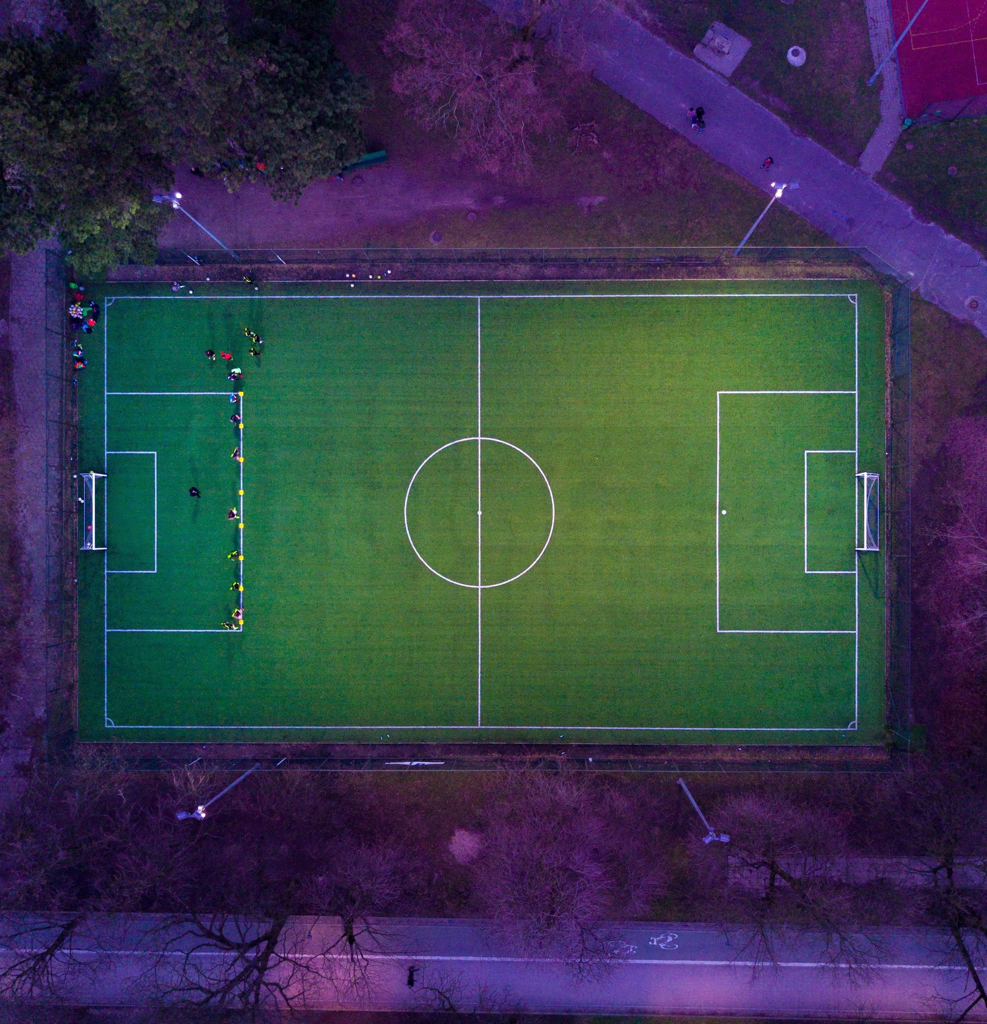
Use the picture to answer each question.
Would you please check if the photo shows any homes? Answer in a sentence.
No, no home is visible in the view.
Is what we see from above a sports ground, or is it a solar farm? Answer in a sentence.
This looks like a sports ground.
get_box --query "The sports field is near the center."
[77,279,886,745]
